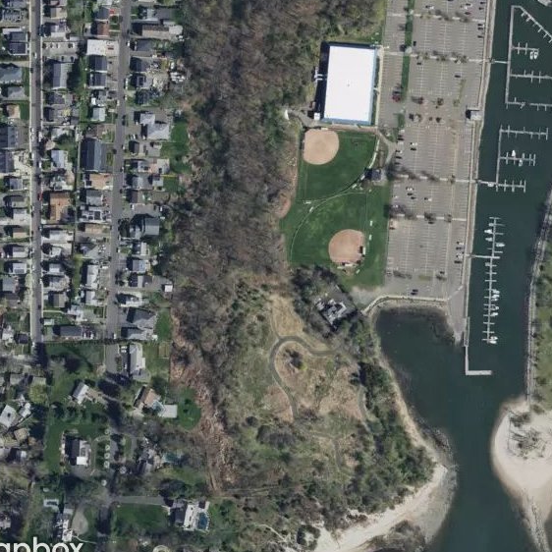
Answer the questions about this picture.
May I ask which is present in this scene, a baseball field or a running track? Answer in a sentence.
I can see a baseball field in this picture.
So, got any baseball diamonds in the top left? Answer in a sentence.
No, I see no baseball diamond in the top left.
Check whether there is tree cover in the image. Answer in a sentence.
Yes, the picture does contain tree cover.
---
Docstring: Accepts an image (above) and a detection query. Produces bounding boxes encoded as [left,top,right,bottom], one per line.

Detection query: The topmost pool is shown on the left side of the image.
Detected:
[151,403,177,418]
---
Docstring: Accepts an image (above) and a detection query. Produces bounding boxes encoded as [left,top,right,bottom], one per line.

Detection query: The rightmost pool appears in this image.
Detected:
[196,501,210,532]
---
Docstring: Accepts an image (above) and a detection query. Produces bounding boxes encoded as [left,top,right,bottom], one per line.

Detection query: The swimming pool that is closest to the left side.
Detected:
[43,498,59,511]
